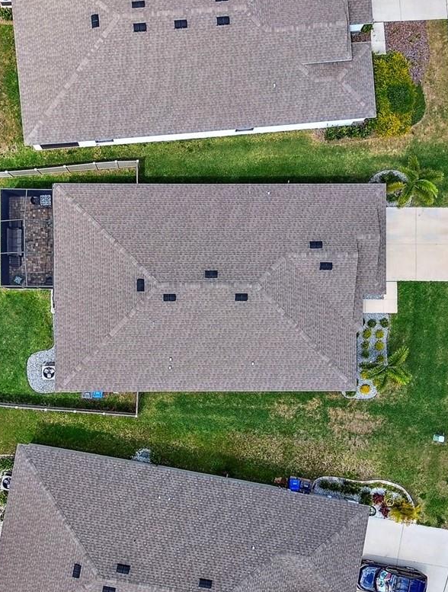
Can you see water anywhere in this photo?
No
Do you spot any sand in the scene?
No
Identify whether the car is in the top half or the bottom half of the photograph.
bottom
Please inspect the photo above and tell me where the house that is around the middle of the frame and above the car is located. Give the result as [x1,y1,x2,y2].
[51,182,387,392]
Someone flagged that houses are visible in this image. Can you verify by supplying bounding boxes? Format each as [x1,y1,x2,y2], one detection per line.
[0,442,372,592]
[51,182,387,392]
[11,0,378,149]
